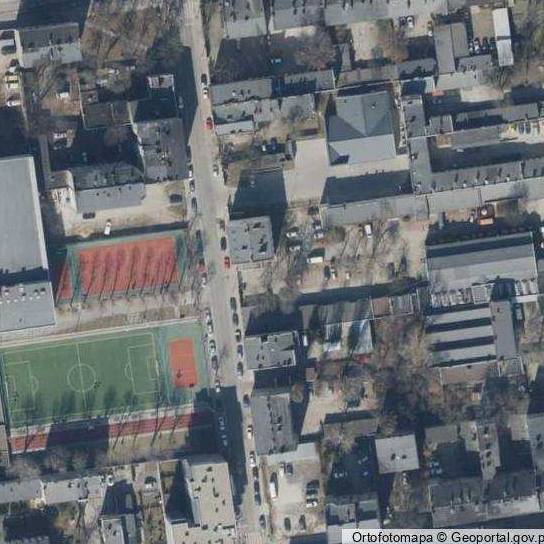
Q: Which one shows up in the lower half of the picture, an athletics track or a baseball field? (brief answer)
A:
athletics track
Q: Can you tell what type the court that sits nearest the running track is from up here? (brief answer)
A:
basketball court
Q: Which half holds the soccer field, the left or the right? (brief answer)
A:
left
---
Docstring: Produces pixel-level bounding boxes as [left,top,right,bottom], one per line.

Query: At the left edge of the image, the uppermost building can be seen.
[17,22,82,70]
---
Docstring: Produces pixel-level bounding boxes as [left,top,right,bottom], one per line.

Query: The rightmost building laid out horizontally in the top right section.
[502,102,539,122]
